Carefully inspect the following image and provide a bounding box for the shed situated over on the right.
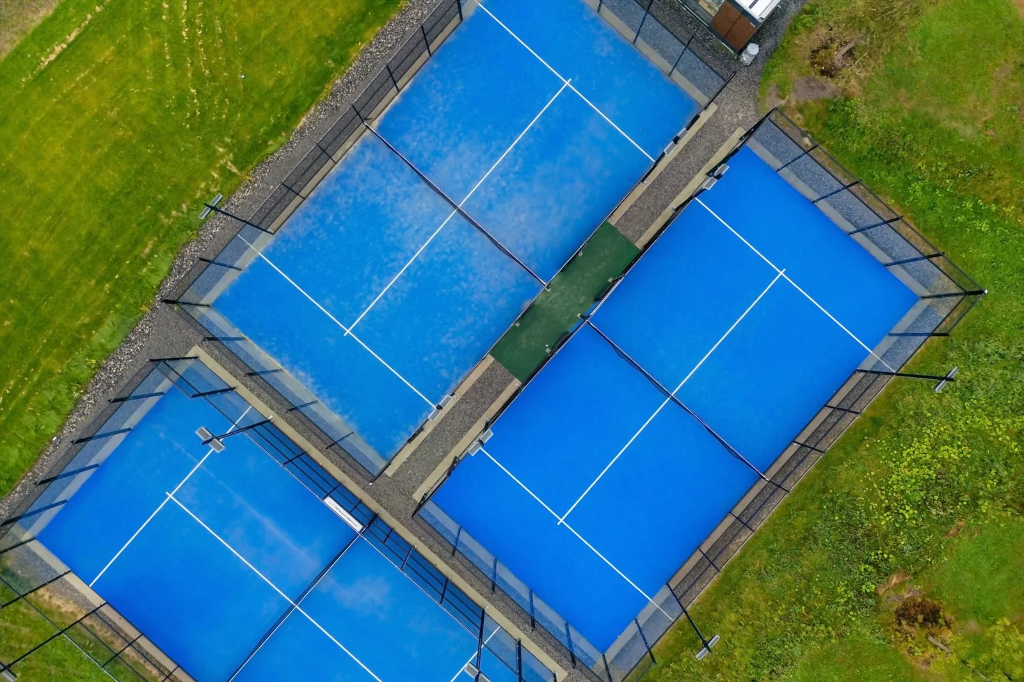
[676,0,785,53]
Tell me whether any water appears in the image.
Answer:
No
